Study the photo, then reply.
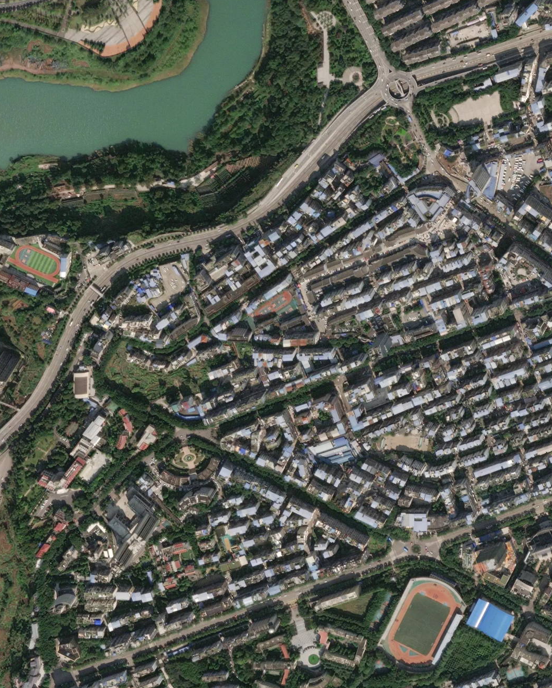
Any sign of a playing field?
Yes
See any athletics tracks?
Yes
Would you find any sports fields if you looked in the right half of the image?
Yes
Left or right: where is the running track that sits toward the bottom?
right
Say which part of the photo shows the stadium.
bottom right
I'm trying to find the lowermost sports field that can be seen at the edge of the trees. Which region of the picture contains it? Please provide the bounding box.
[395,592,450,655]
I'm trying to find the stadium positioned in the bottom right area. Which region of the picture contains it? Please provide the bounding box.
[379,577,465,669]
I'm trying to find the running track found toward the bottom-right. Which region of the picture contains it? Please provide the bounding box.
[388,582,460,665]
